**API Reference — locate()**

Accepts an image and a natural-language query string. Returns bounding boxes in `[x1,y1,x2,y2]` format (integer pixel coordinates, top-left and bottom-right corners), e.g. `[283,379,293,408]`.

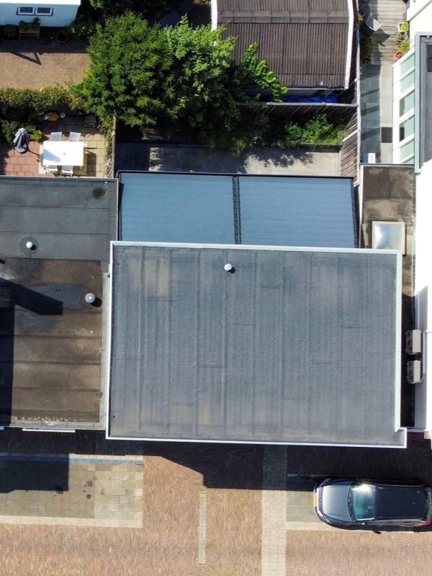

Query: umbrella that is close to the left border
[14,139,28,158]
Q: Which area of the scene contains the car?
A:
bottom right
